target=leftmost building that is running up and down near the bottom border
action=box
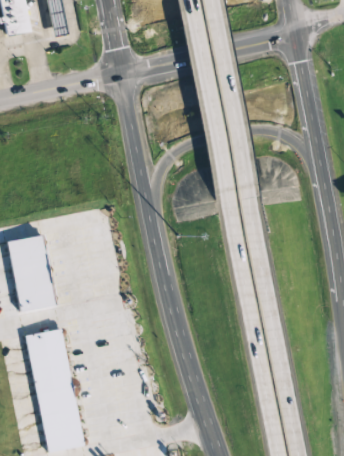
[25,329,84,453]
